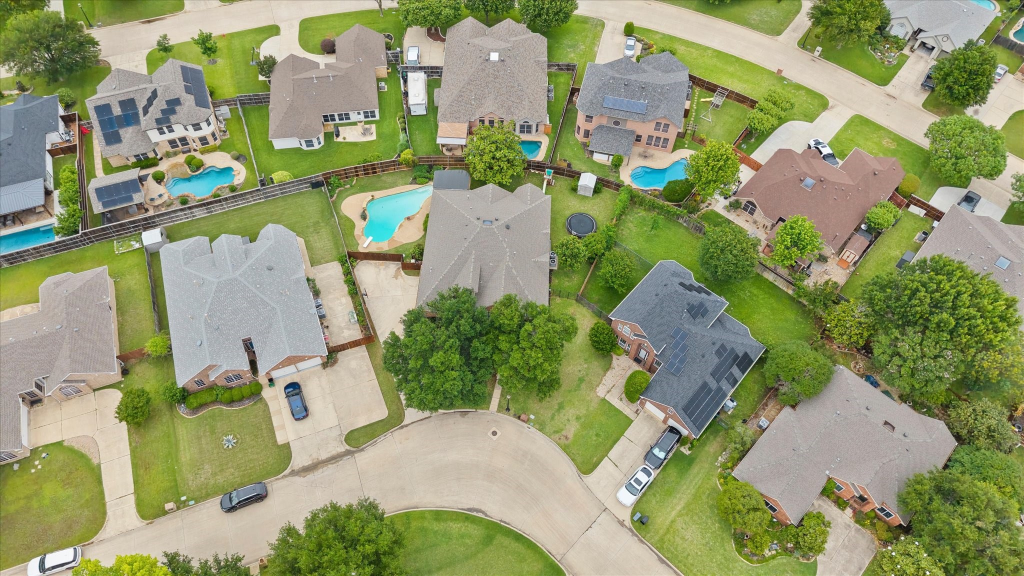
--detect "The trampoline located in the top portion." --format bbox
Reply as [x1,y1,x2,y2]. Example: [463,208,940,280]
[566,208,597,238]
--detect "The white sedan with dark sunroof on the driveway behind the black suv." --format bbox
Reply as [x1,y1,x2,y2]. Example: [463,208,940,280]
[616,463,659,510]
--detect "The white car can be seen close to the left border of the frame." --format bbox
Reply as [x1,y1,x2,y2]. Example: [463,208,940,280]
[28,543,86,576]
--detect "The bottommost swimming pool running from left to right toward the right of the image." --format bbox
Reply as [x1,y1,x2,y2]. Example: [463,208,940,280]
[629,156,694,190]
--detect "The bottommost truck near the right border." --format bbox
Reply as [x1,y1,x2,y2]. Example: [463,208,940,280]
[958,189,986,214]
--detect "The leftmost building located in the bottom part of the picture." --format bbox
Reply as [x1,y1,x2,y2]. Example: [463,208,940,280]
[0,266,124,466]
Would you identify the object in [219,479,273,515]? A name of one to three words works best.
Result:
car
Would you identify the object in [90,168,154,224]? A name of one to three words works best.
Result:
building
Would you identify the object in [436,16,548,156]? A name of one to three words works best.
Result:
house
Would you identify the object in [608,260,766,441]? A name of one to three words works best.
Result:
house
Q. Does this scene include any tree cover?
Yes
